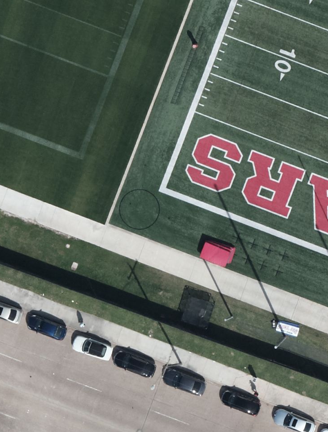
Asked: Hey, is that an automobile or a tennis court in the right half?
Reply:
automobile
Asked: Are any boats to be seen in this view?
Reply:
No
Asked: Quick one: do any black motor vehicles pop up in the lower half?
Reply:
Yes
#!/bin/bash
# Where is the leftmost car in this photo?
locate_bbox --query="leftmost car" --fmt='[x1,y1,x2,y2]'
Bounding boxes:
[0,300,23,324]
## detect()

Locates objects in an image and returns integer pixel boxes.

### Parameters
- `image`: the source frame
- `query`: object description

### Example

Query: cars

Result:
[26,312,69,340]
[272,410,318,432]
[112,349,158,380]
[220,389,263,418]
[162,367,208,396]
[71,334,114,362]
[0,300,23,324]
